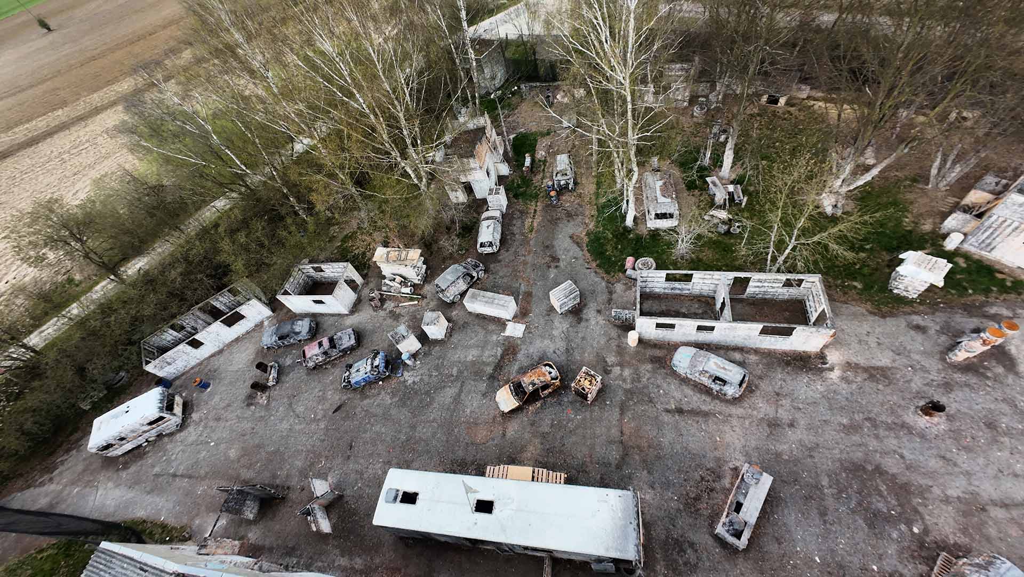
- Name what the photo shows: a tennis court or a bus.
bus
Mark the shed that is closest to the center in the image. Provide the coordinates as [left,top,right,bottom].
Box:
[452,113,513,199]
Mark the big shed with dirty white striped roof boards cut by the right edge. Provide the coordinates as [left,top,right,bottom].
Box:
[927,175,1024,298]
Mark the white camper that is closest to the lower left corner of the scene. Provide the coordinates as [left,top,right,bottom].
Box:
[88,388,189,457]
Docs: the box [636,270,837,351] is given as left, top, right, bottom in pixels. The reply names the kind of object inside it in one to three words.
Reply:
shed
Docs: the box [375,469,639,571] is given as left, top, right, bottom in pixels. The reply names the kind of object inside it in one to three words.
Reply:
bus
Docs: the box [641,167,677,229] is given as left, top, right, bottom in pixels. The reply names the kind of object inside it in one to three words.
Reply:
van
